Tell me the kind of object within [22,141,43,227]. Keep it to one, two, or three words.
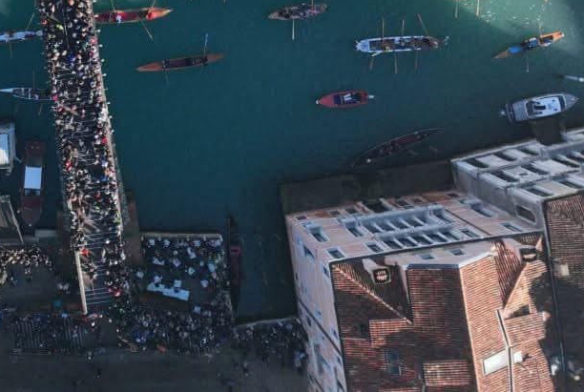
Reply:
boat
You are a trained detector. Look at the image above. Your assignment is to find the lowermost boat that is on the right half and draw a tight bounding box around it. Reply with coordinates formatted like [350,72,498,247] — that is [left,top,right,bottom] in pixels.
[351,129,450,173]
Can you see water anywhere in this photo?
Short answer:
Yes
